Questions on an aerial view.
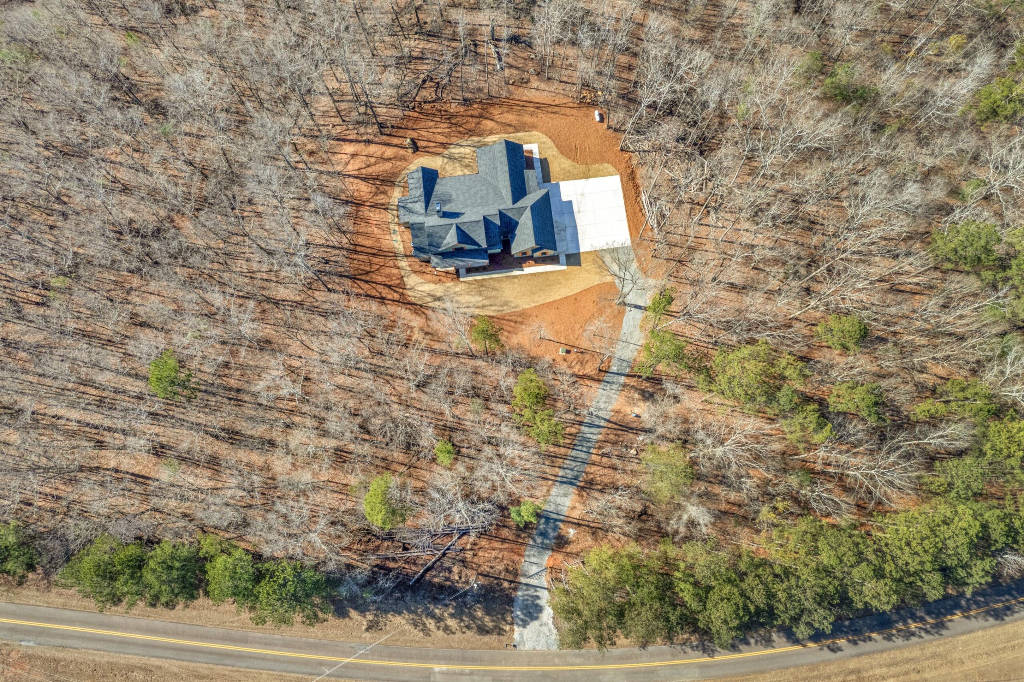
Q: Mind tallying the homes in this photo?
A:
1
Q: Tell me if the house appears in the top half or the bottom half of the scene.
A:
top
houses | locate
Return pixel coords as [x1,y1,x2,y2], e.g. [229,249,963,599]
[397,138,557,273]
